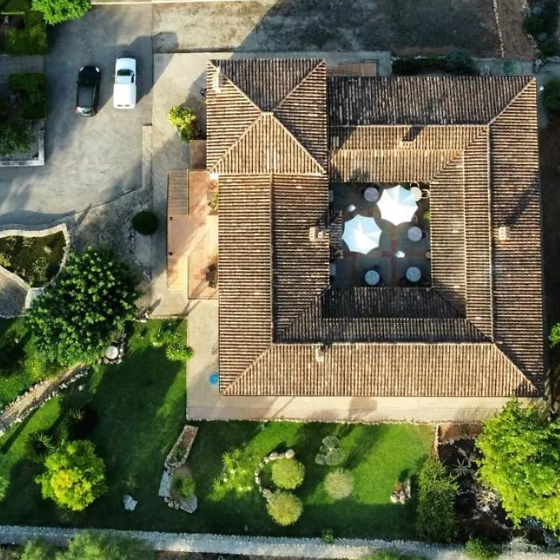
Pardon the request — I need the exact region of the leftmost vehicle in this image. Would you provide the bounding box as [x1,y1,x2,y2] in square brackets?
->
[75,66,101,115]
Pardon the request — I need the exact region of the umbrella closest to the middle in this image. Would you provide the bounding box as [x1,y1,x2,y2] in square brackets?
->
[345,215,378,252]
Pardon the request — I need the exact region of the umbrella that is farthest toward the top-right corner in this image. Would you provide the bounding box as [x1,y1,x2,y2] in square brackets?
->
[376,184,415,225]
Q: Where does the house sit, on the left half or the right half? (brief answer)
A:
right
